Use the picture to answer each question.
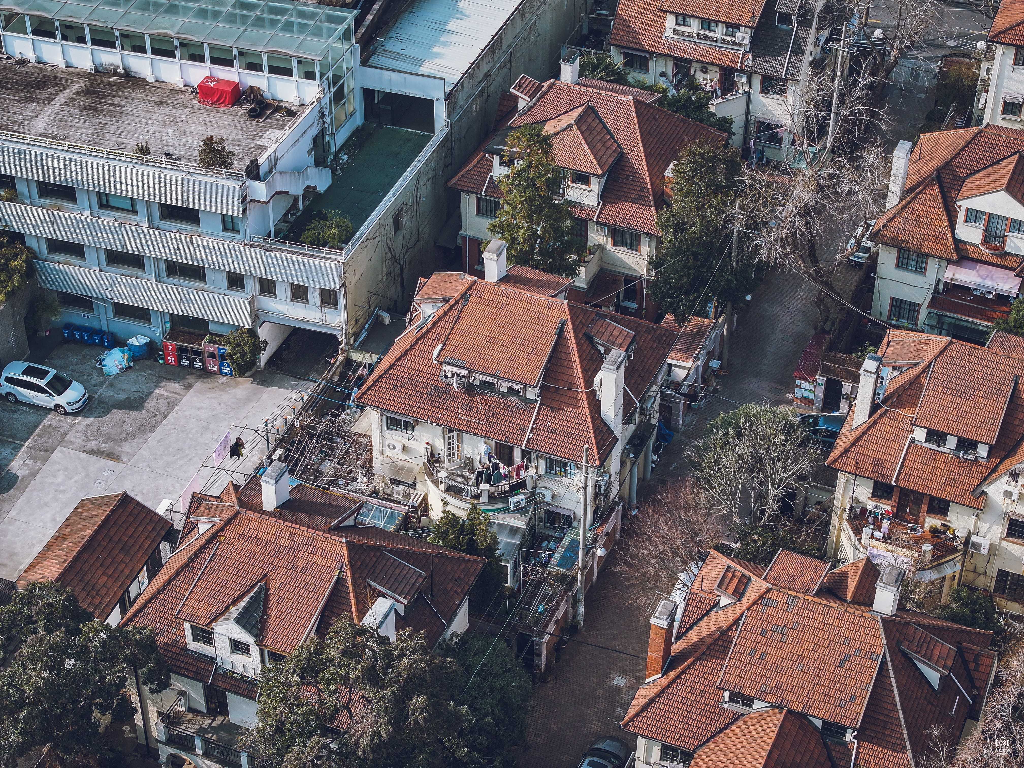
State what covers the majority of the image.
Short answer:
buildings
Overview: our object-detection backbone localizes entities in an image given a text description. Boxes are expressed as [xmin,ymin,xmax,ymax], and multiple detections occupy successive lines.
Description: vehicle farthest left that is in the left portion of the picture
[2,358,92,417]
